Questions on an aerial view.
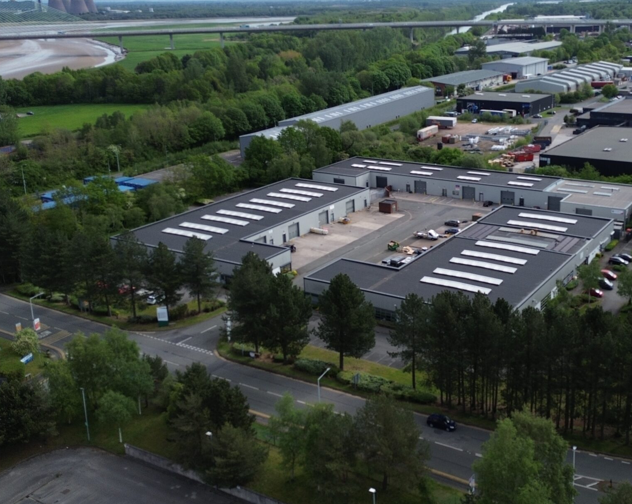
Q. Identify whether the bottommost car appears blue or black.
black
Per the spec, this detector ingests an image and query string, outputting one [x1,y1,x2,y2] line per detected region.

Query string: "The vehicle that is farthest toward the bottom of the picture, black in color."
[424,412,459,432]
